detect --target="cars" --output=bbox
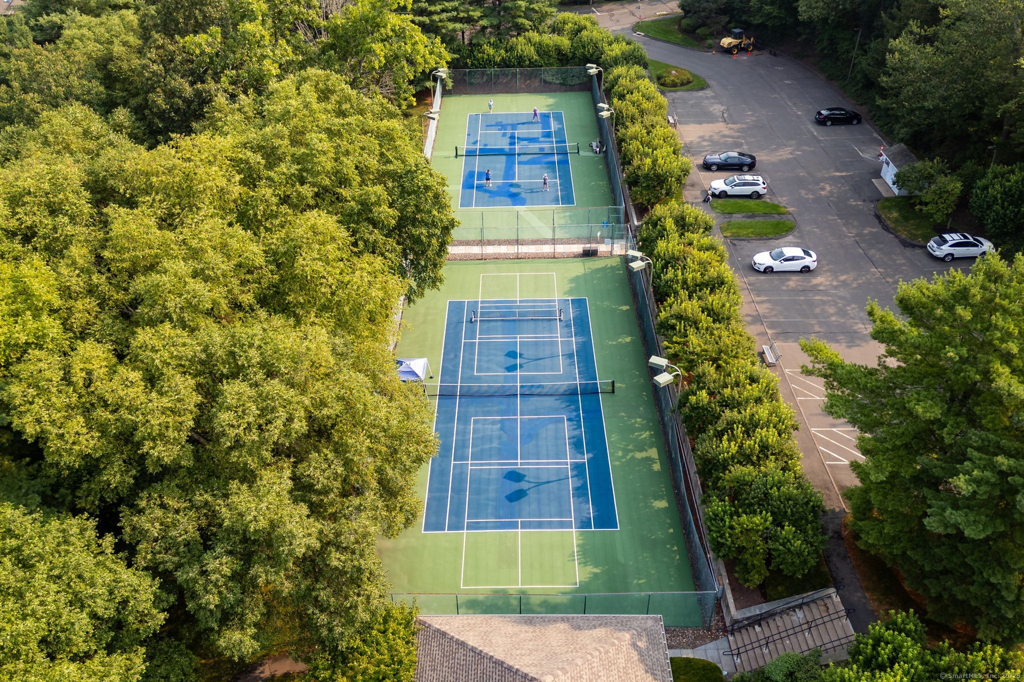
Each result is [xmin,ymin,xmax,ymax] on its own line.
[711,172,768,197]
[814,106,863,124]
[702,150,756,170]
[752,245,817,271]
[926,229,993,259]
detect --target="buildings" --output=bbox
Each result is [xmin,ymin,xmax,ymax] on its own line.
[410,612,676,682]
[880,142,924,195]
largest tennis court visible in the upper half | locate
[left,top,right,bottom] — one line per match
[433,92,622,240]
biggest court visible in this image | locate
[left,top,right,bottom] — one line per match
[362,258,701,628]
